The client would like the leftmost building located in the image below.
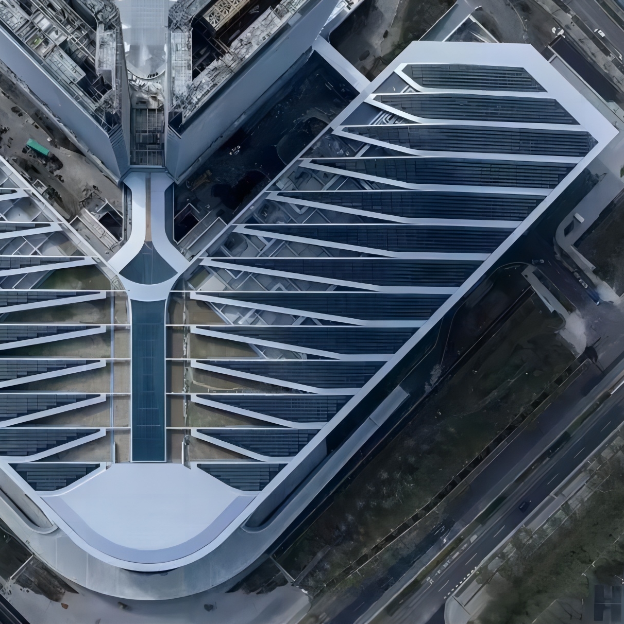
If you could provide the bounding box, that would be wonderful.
[0,0,128,180]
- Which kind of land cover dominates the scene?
buildings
